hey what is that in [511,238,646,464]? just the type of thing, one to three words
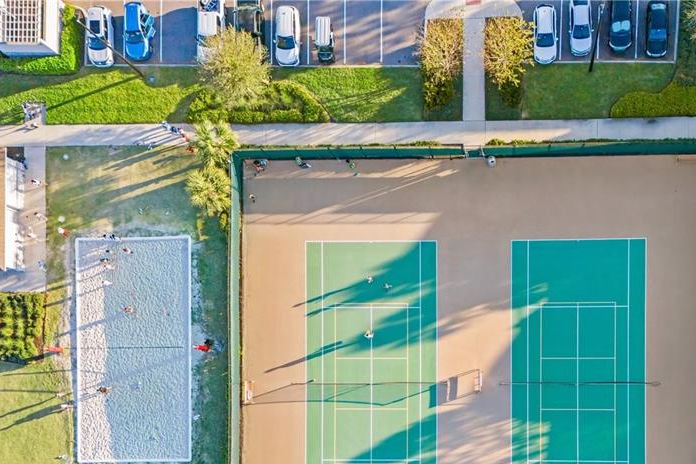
tennis court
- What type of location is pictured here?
sports ground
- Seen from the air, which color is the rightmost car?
blue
